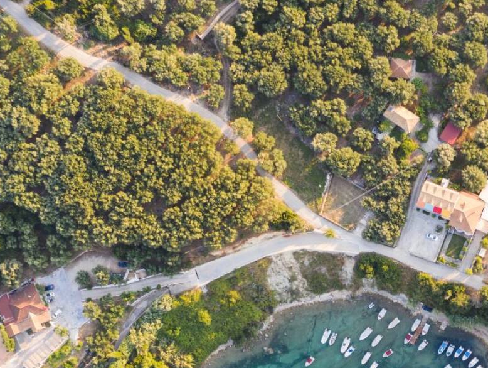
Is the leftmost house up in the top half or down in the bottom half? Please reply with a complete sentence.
Seen from above, the leftmost house lies in the bottom half of the view.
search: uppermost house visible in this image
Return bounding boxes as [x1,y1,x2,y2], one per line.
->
[389,59,415,81]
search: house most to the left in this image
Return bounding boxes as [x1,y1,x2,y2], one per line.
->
[0,282,66,368]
